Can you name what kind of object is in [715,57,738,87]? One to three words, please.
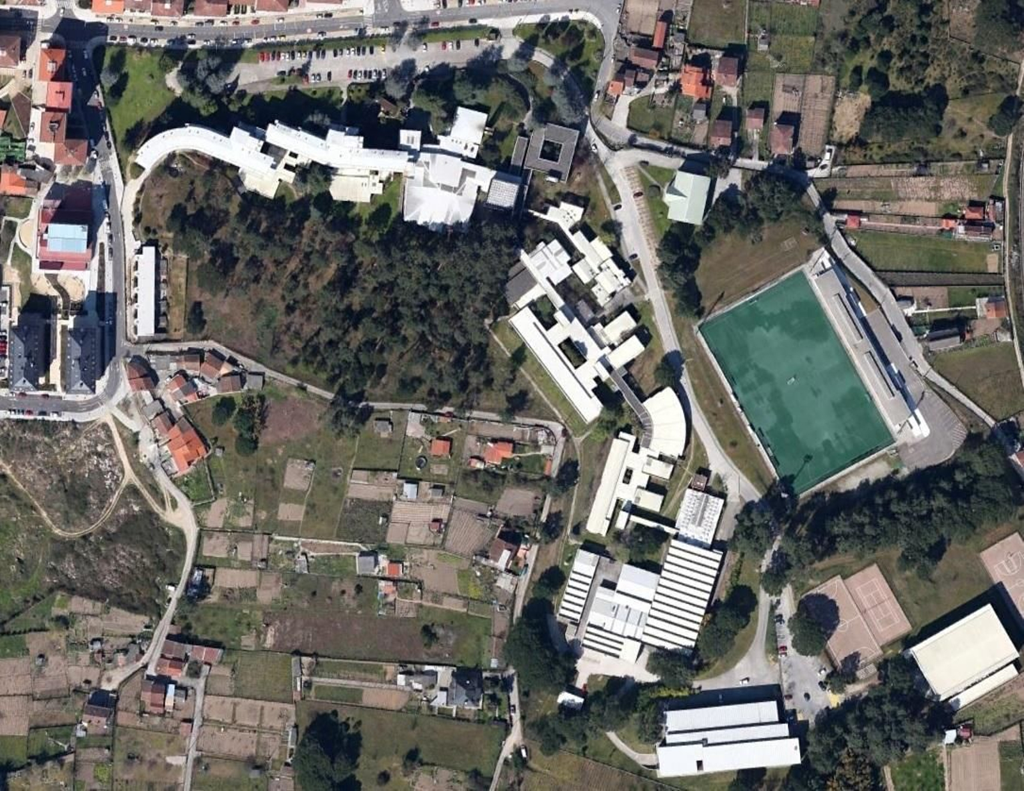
house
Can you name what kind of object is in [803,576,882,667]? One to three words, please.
sports court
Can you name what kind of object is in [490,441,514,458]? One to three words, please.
shed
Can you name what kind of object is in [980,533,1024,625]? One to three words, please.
basketball court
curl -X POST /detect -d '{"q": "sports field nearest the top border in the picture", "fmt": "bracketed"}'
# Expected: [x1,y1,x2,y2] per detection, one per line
[697,223,825,312]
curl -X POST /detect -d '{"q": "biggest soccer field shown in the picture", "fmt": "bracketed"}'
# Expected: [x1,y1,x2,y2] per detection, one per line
[699,271,894,495]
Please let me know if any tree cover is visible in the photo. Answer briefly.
Yes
